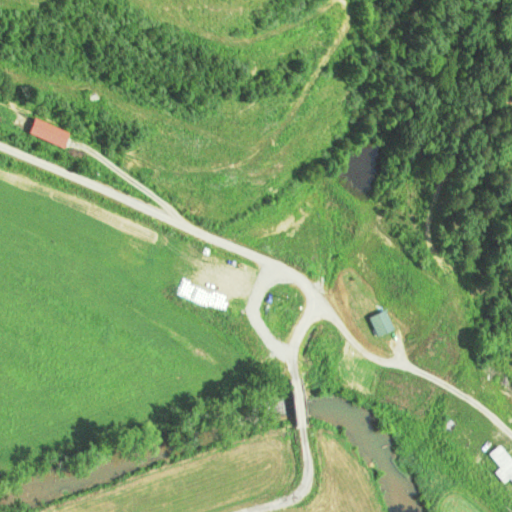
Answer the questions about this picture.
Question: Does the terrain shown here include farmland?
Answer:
Yes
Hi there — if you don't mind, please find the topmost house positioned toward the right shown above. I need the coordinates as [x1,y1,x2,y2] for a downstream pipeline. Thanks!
[370,310,394,336]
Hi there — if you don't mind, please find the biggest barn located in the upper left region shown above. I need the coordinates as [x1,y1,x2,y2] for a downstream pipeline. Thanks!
[30,118,72,148]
